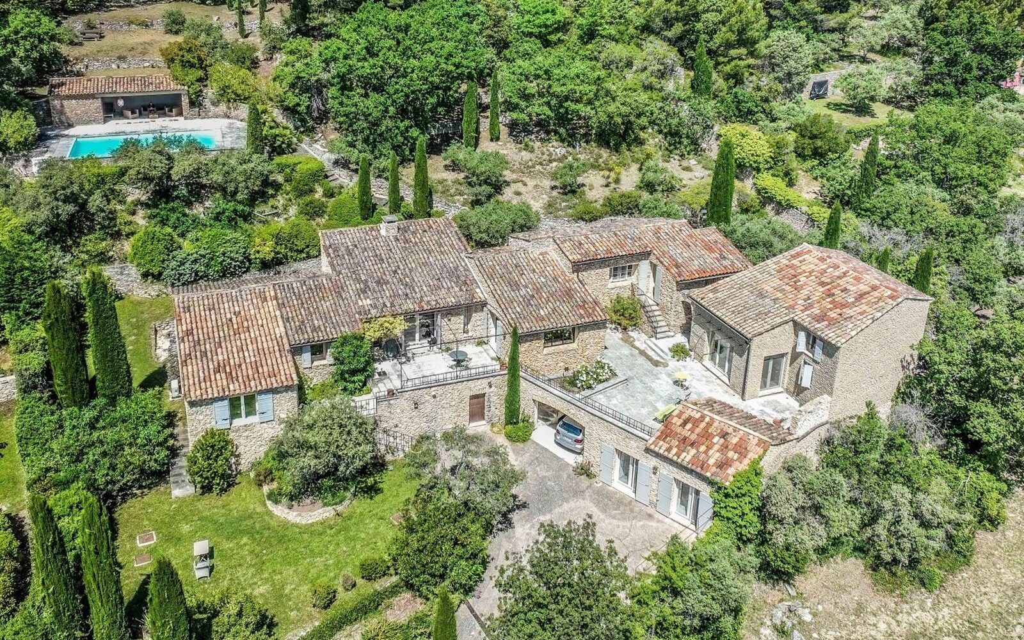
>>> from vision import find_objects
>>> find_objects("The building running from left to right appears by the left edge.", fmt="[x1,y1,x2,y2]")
[47,67,187,126]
